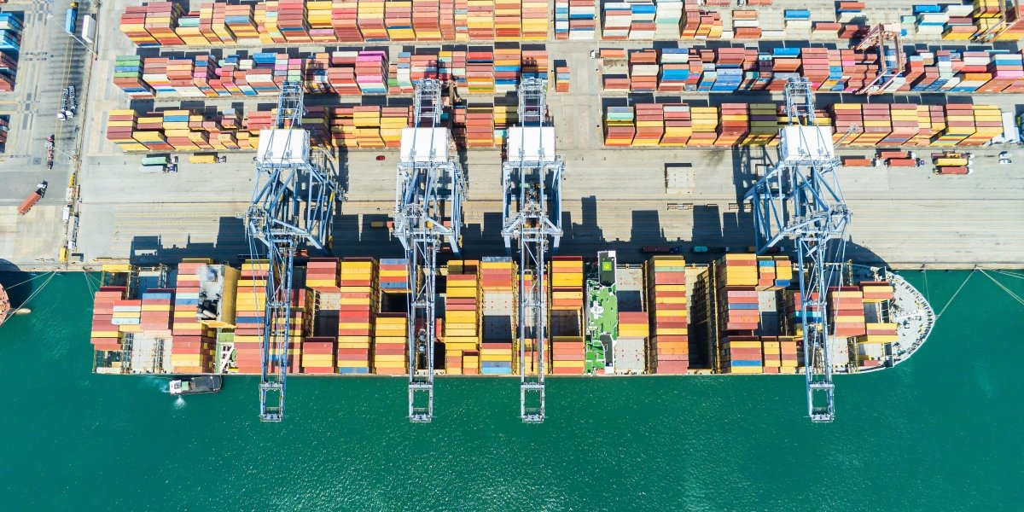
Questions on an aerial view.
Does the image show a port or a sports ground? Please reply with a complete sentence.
What you see here is a port.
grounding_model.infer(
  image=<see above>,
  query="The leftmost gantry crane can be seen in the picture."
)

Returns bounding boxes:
[241,81,349,421]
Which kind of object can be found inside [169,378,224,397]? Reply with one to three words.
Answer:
boat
